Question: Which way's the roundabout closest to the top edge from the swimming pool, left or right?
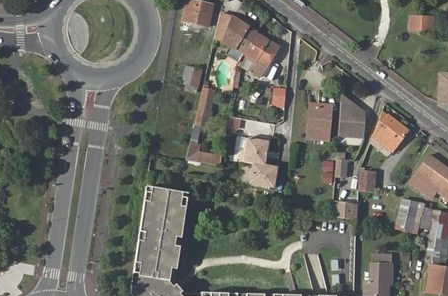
on the left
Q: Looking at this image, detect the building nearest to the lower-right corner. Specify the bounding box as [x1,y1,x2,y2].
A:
[424,264,448,296]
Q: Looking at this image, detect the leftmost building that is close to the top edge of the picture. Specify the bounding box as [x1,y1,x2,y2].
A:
[181,0,214,26]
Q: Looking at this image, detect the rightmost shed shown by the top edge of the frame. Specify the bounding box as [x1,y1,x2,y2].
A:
[407,14,434,32]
